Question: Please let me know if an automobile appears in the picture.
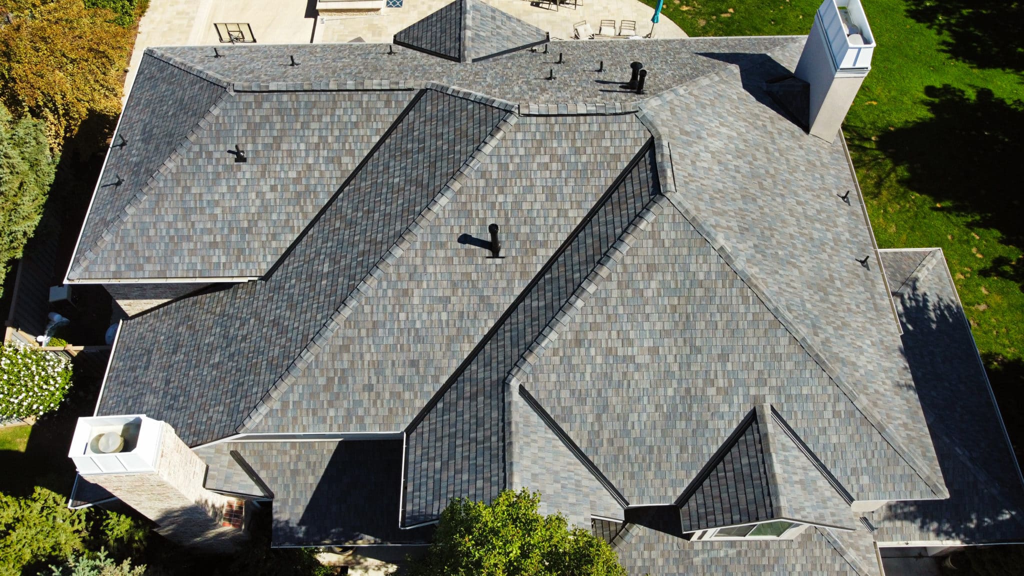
No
